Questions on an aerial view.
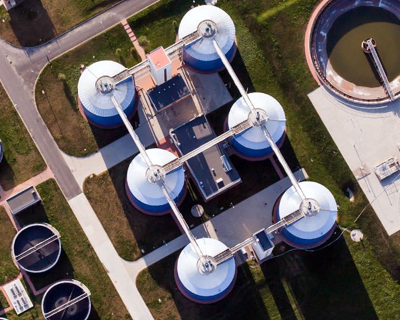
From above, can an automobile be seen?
No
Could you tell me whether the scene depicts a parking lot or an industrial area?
industrial area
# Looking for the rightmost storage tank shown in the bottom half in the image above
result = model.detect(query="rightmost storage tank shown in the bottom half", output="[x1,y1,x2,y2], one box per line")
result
[273,178,338,246]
